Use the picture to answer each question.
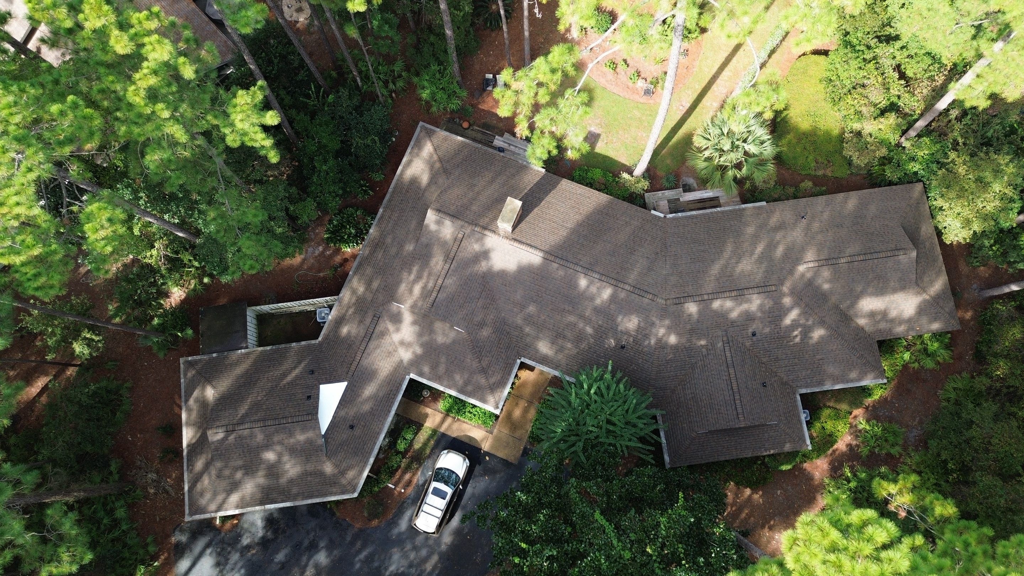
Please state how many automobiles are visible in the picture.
1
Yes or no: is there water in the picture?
No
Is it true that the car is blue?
No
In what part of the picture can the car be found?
bottom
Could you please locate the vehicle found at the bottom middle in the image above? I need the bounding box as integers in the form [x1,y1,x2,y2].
[410,447,472,541]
